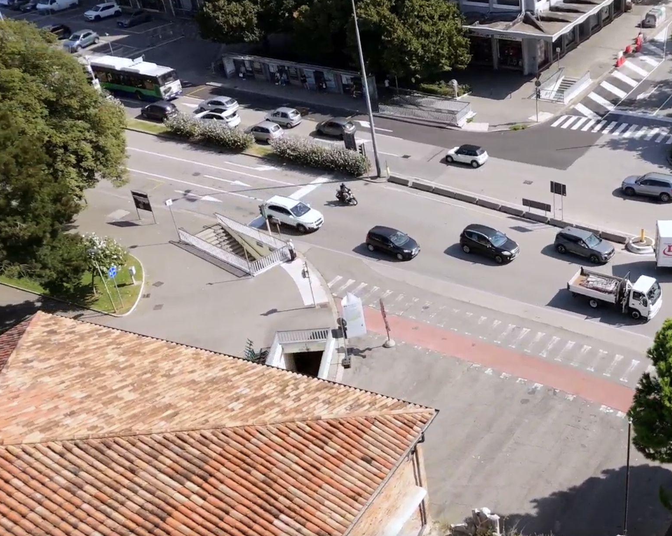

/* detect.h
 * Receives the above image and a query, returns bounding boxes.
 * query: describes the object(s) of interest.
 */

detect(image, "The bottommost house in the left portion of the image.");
[0,307,445,536]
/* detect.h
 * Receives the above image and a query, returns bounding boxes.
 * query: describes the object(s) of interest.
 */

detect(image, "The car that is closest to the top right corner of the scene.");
[619,168,672,202]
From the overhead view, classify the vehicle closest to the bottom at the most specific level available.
truck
